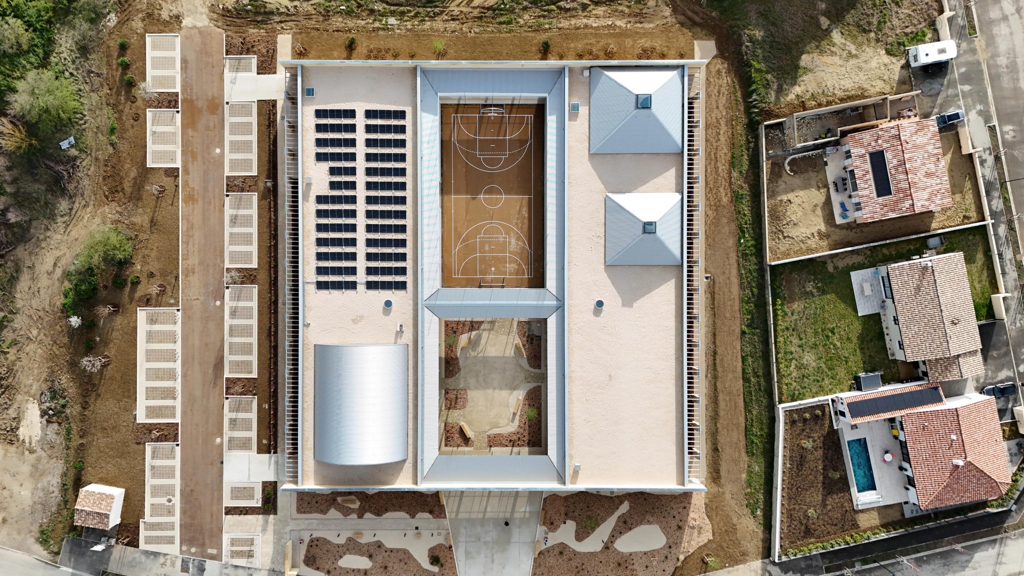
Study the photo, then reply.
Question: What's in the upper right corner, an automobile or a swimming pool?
automobile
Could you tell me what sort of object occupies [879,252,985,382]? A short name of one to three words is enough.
house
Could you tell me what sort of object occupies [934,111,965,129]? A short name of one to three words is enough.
car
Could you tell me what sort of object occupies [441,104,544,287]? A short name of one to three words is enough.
sports court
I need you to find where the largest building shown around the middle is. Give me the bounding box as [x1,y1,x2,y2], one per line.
[280,60,707,491]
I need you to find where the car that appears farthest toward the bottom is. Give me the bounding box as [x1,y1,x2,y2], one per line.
[982,382,1015,399]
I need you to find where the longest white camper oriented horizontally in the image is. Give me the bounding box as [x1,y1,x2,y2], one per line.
[902,46,957,72]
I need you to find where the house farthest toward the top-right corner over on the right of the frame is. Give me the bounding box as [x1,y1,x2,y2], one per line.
[841,118,952,223]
